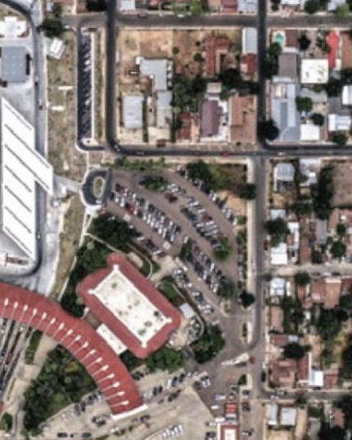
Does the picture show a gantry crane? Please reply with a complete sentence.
No, the frame has no gantry crane in it.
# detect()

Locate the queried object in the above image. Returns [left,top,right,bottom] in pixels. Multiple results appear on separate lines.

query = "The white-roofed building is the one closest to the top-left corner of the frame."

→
[0,17,27,37]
